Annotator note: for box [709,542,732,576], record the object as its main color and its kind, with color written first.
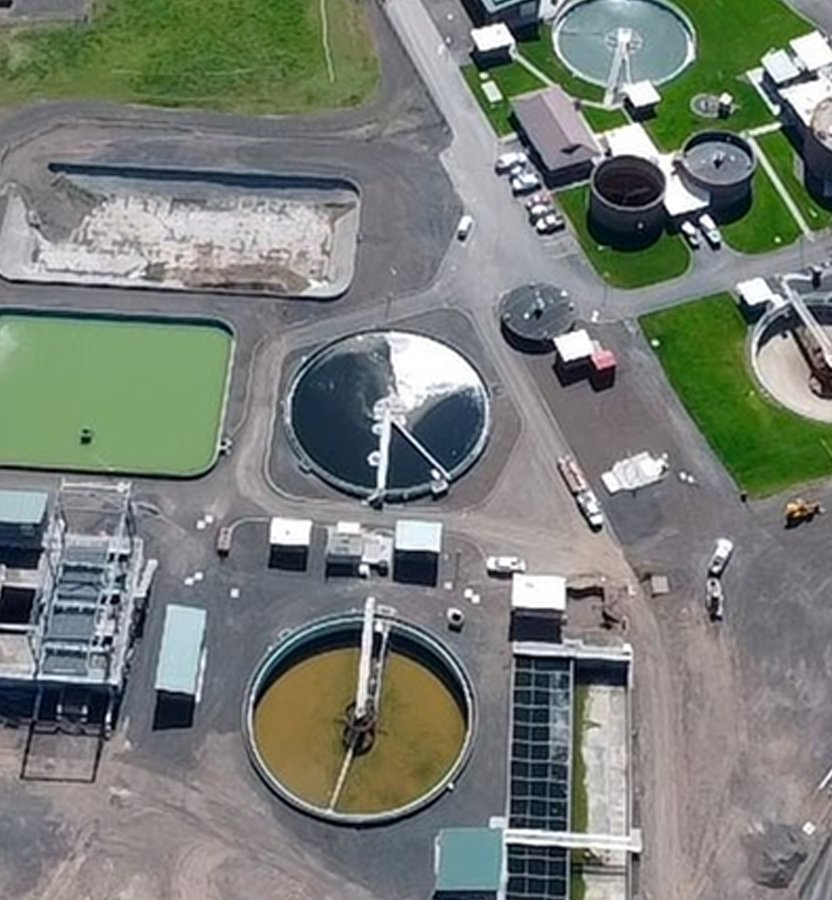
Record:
white truck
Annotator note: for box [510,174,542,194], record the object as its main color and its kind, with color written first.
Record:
white vehicle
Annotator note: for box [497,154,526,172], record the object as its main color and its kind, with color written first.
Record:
white car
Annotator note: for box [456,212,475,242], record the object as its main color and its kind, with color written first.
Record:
white vehicle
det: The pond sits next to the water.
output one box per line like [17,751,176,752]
[0,308,236,475]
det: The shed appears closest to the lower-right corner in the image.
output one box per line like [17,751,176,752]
[436,828,503,898]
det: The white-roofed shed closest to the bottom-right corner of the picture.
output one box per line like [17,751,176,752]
[511,575,566,623]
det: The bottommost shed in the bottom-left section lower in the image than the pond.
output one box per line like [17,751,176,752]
[154,606,210,710]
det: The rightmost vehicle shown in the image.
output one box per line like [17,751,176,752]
[786,498,829,524]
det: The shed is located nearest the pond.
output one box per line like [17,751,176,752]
[0,490,51,544]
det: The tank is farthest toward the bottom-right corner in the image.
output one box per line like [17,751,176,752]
[490,641,648,900]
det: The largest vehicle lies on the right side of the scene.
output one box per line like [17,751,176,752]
[554,454,606,531]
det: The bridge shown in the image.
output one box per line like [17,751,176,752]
[505,823,648,856]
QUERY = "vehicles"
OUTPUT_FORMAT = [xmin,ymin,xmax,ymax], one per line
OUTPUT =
[786,498,829,524]
[508,164,536,181]
[510,174,542,194]
[699,214,721,244]
[497,154,526,172]
[456,212,475,242]
[709,542,732,576]
[535,217,564,236]
[680,222,699,248]
[525,192,553,209]
[530,203,559,221]
[554,454,606,531]
[488,558,525,575]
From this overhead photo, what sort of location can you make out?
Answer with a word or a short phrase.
industrial area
